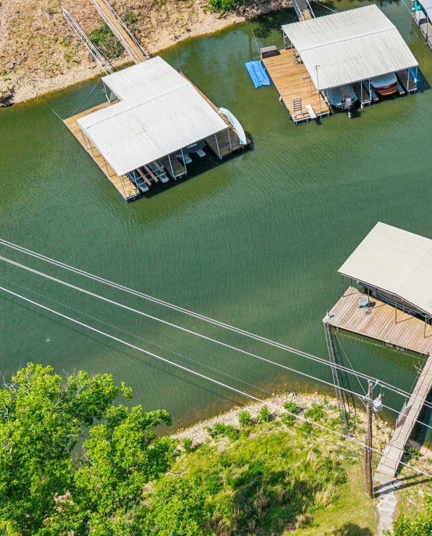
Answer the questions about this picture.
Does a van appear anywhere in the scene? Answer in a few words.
No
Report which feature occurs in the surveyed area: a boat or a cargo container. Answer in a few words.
boat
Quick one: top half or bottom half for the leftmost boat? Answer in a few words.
top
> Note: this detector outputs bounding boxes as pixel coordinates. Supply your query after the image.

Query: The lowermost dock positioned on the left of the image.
[63,55,251,204]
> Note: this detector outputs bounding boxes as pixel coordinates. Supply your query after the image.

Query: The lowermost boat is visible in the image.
[175,141,206,165]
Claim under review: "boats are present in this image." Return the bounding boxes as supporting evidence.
[322,85,353,112]
[365,74,396,99]
[175,141,206,165]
